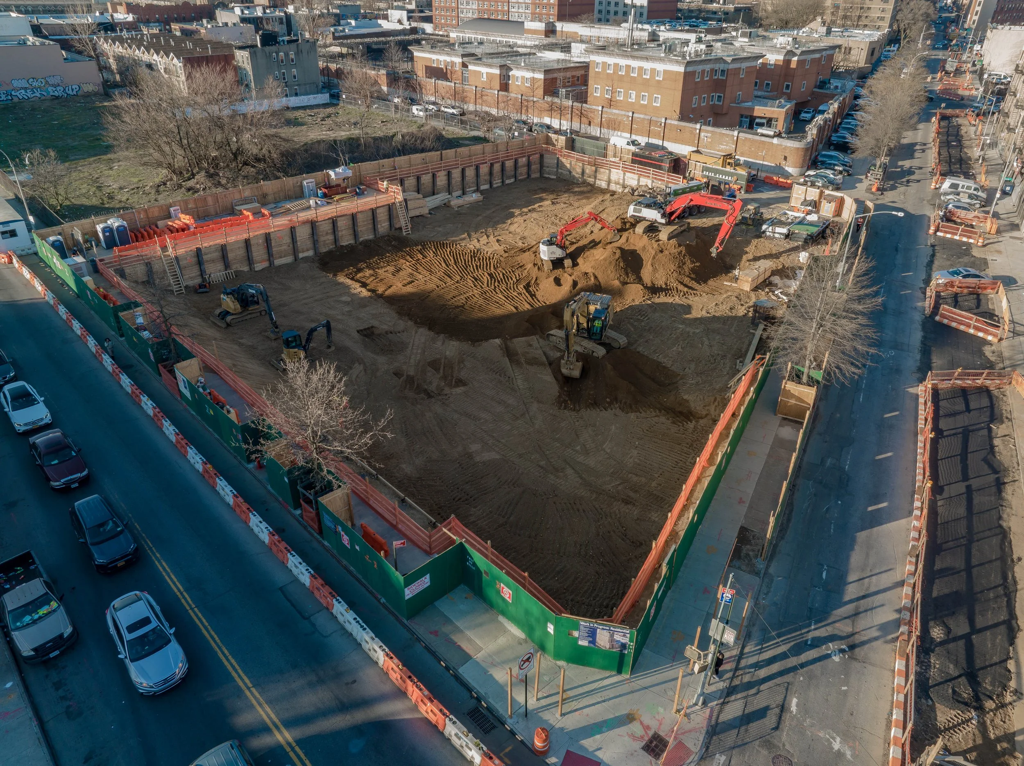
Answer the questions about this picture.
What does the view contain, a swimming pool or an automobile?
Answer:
automobile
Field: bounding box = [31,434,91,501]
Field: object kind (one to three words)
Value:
car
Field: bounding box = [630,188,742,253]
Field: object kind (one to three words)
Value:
work vehicle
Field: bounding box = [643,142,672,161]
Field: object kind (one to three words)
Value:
car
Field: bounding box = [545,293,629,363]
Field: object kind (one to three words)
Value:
work vehicle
